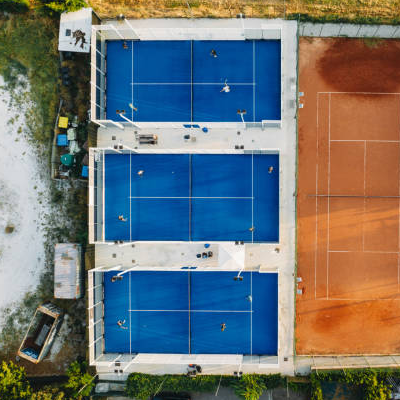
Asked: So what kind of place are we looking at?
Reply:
sports ground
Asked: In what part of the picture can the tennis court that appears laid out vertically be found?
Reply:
right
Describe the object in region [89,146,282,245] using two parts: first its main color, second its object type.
blue sports court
